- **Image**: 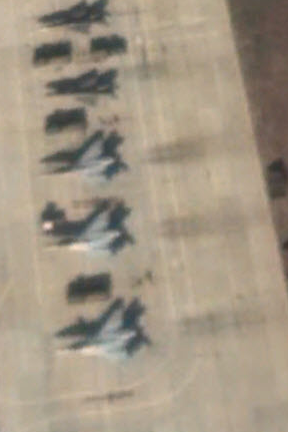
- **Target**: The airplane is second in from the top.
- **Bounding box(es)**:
[44,73,116,102]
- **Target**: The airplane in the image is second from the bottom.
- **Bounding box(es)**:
[43,213,136,258]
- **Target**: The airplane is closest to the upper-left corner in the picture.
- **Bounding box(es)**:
[36,4,107,31]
